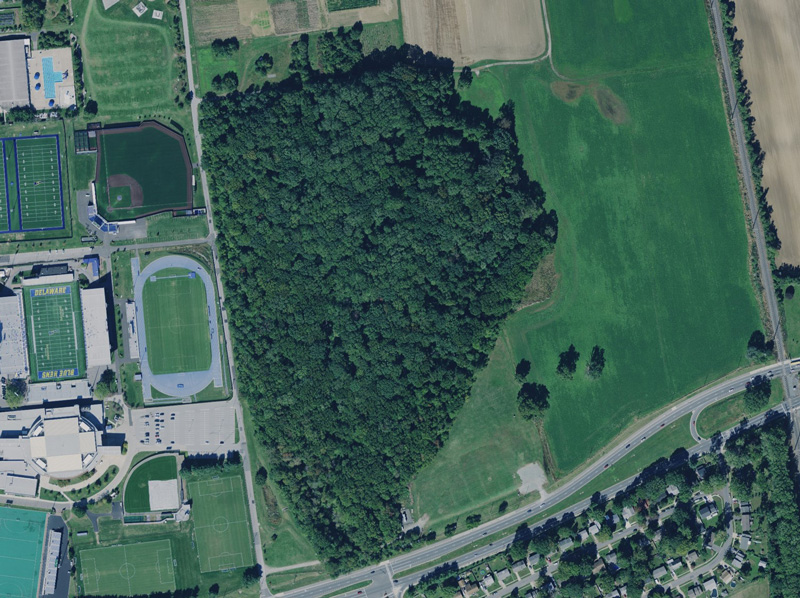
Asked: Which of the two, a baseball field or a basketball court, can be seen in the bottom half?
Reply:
baseball field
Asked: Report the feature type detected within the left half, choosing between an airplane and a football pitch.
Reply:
football pitch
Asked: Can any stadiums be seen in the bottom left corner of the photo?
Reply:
Yes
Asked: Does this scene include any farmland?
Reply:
Yes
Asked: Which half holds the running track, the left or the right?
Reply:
left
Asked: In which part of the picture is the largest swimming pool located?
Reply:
top left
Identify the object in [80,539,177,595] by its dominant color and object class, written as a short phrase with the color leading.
green soccer field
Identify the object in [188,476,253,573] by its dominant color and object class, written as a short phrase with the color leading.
green soccer field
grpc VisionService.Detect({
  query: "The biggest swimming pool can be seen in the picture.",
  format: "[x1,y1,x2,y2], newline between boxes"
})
[29,47,76,109]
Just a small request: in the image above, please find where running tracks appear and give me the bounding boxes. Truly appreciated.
[131,256,223,402]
